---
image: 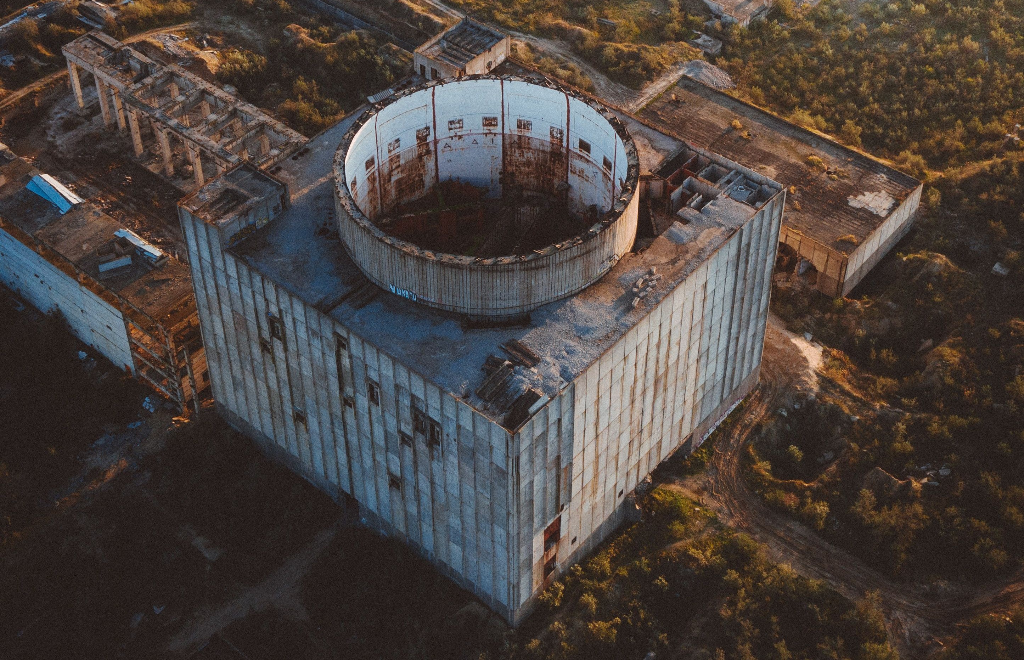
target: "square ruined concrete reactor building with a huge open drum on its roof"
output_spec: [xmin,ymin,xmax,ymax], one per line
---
[175,14,790,624]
